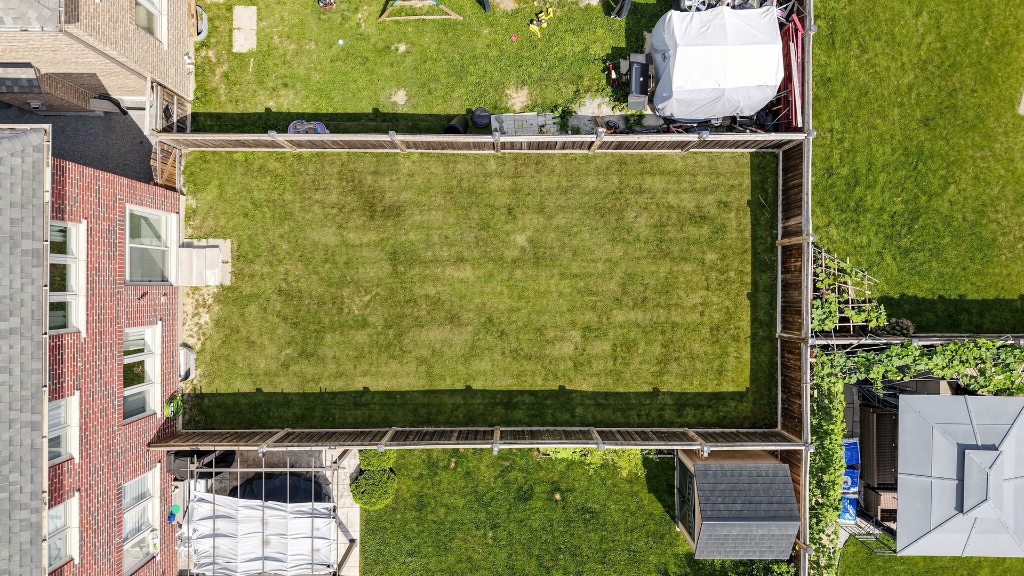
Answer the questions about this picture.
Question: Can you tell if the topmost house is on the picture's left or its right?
left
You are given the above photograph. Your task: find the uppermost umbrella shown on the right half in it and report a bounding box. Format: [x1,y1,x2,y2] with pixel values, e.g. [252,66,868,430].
[609,0,629,24]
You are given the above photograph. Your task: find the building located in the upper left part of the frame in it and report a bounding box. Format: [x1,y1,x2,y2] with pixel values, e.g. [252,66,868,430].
[0,0,194,119]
